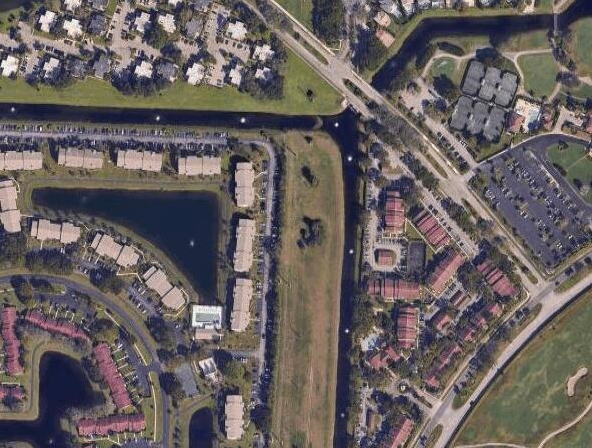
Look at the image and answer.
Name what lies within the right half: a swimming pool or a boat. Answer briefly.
swimming pool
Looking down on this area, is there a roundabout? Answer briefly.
No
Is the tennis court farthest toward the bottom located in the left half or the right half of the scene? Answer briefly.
left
